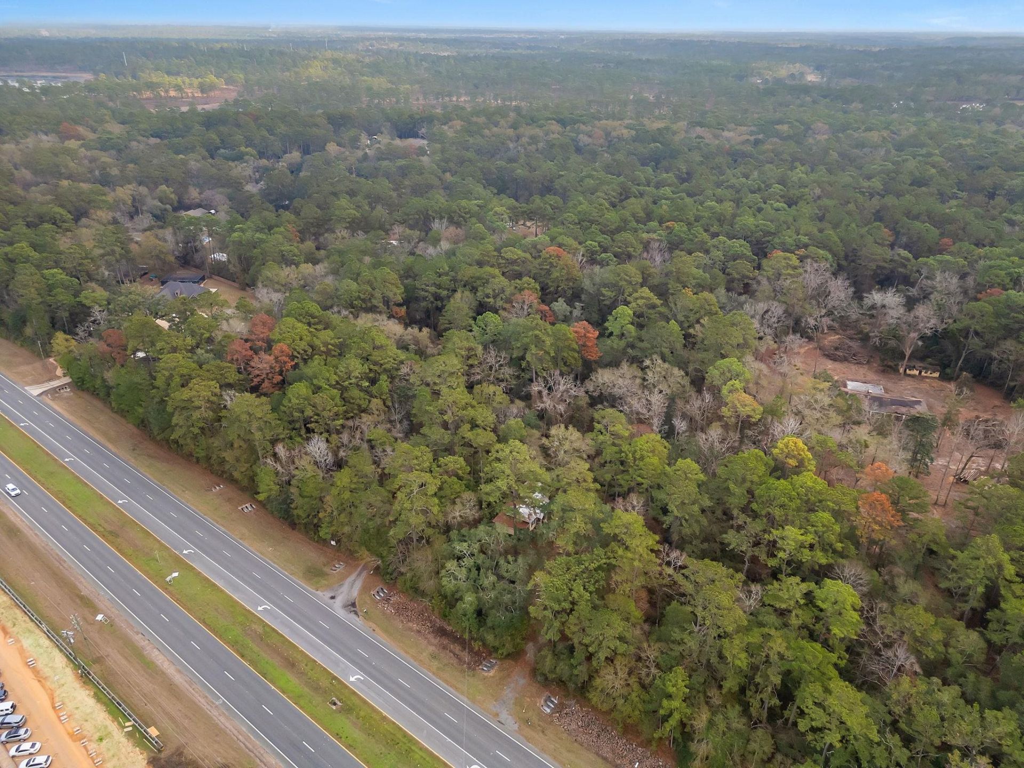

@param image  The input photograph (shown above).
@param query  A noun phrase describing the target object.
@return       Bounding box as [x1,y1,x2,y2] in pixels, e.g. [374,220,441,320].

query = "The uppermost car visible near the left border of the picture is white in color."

[4,482,18,494]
